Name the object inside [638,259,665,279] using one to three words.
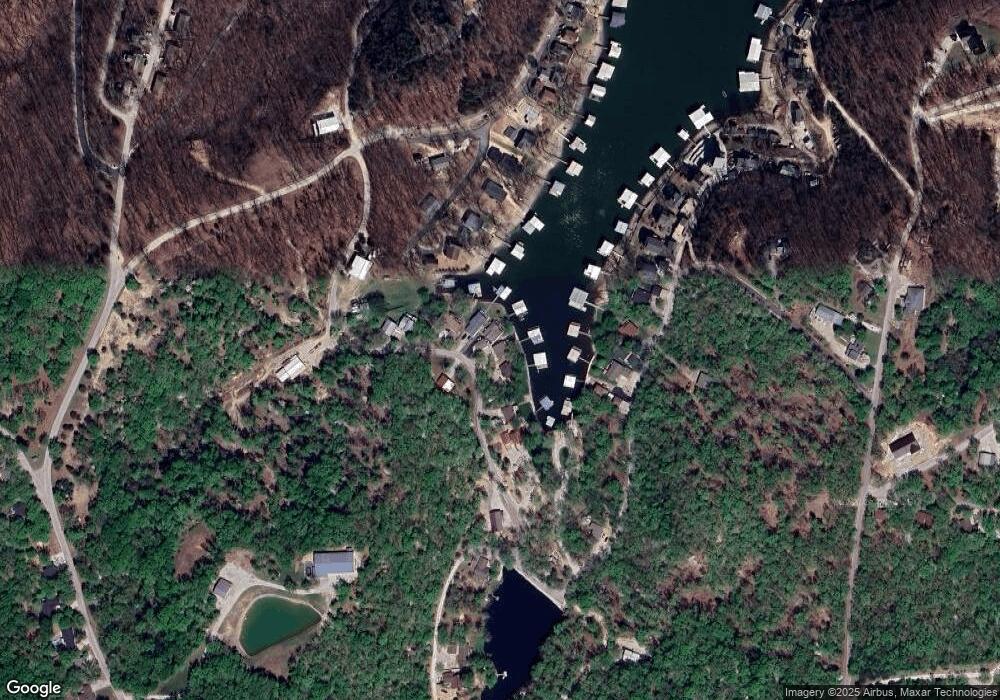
house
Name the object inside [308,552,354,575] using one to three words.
barn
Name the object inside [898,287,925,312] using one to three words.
house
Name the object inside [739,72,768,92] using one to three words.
pier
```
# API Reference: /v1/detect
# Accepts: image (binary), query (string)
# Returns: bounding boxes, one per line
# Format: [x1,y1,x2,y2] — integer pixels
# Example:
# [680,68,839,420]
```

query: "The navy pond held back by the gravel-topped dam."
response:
[482,568,562,700]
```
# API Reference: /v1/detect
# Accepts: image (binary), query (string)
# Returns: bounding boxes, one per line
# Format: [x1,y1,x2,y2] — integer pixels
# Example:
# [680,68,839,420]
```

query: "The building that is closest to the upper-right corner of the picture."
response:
[957,21,988,55]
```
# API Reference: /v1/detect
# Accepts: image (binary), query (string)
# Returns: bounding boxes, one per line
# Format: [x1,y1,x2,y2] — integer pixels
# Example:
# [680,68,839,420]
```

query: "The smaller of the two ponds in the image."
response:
[240,597,320,656]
